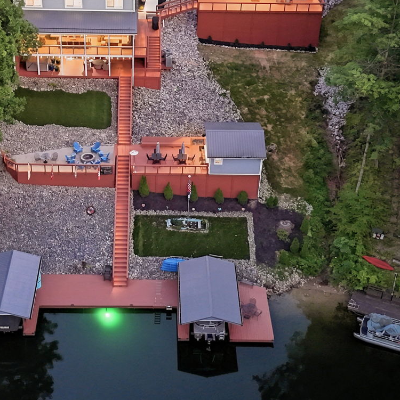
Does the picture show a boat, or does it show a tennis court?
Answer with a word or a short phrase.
boat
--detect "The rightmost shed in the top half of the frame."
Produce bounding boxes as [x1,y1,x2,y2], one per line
[204,123,267,197]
